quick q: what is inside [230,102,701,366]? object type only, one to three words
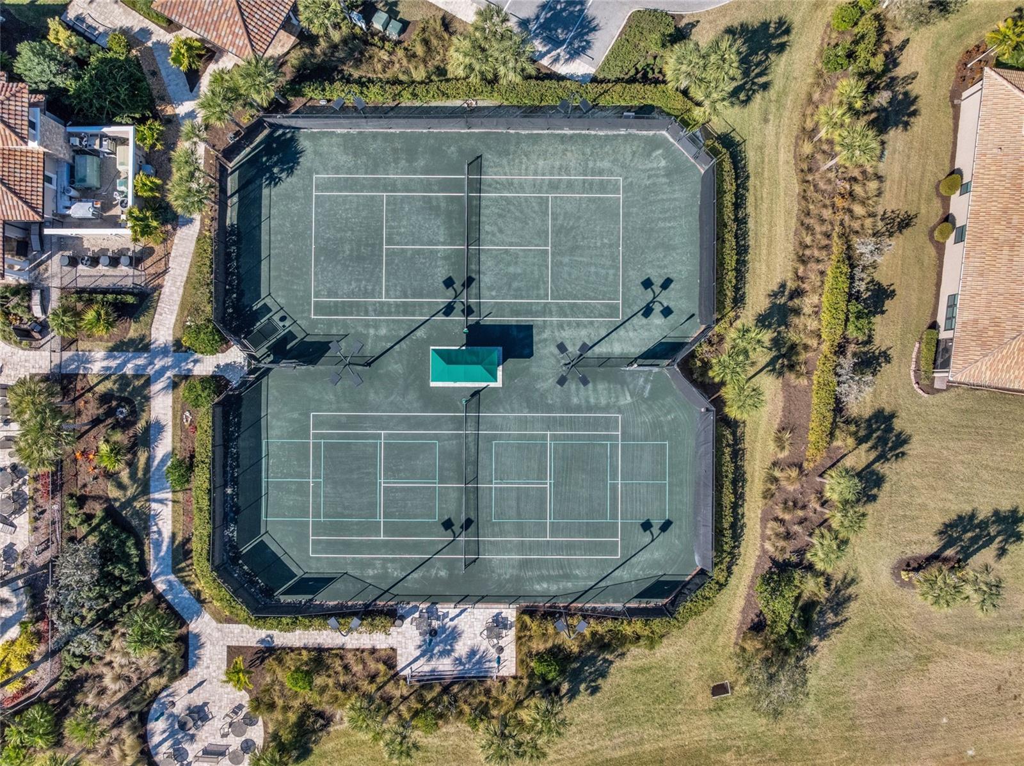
tennis court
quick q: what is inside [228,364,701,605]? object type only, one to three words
tennis court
